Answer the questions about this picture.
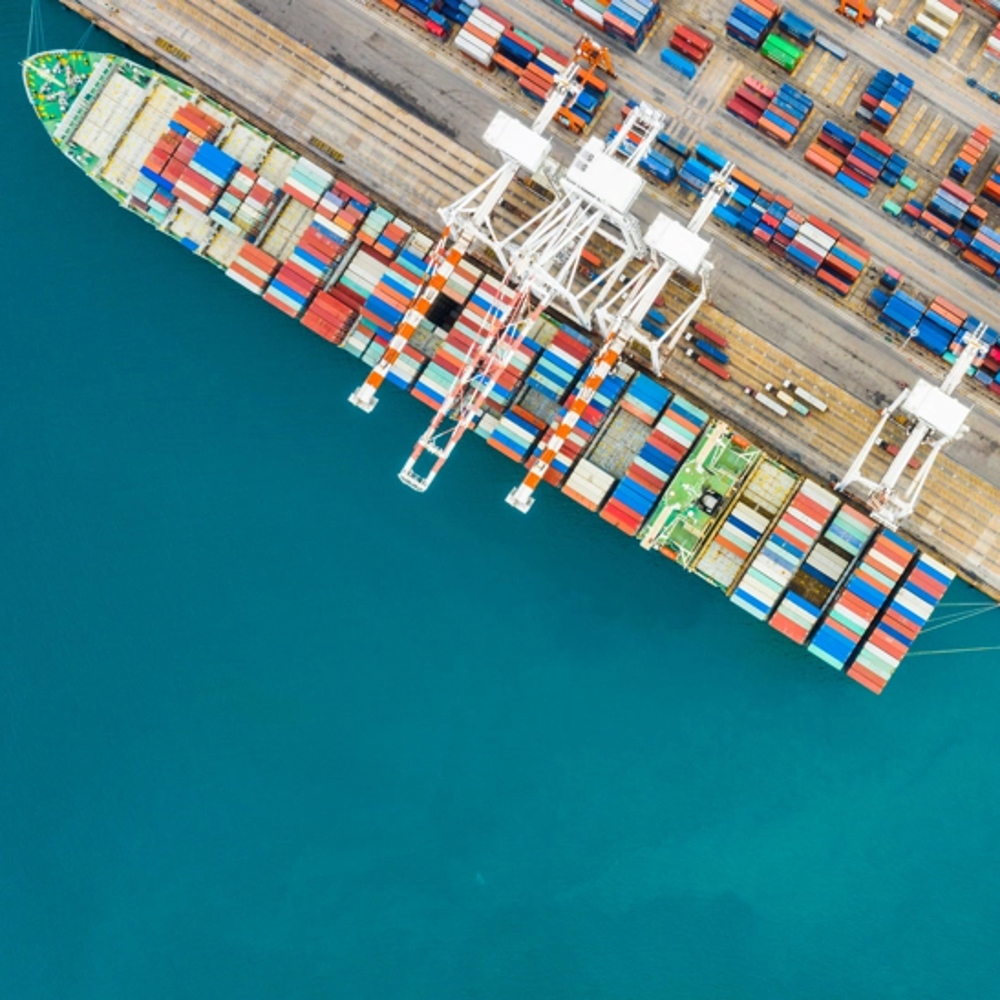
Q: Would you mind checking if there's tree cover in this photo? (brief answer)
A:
No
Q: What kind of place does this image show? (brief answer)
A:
port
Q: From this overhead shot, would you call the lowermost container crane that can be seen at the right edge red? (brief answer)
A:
No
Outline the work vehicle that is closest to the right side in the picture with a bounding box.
[964,71,1000,104]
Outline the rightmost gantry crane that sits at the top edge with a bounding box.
[835,0,872,32]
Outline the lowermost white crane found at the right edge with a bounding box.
[831,324,992,533]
